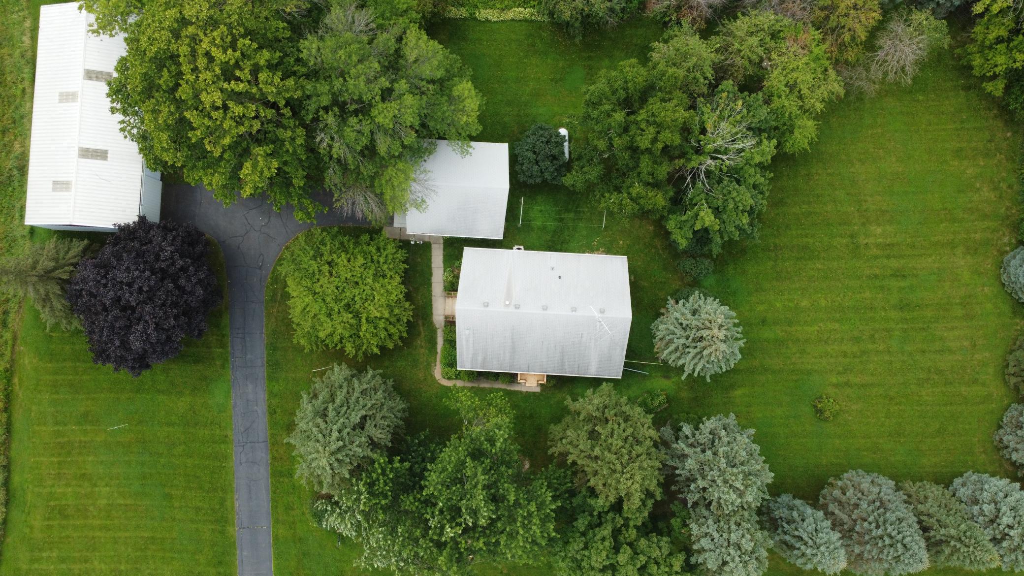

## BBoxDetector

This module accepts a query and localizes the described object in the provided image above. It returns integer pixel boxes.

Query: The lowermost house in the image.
[455,246,632,379]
